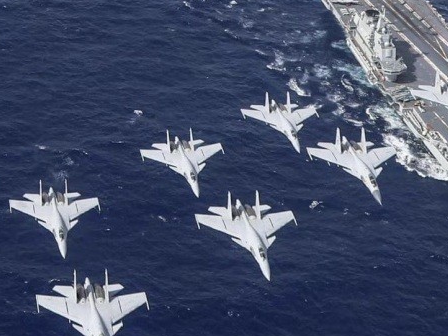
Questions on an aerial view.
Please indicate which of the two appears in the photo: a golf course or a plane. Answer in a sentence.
There is a plane in the scene.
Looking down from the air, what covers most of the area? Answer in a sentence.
The scene is dominated by water.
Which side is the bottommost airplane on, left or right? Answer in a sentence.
It is on the left.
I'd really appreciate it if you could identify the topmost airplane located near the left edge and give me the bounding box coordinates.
[9,177,101,258]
